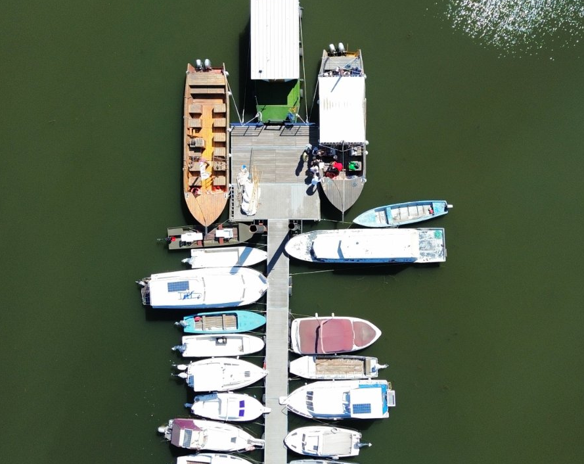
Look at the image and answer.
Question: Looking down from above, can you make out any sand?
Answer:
No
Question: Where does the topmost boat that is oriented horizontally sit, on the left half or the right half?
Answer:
right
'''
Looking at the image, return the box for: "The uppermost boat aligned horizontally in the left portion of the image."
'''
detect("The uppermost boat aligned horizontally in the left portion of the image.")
[160,220,267,249]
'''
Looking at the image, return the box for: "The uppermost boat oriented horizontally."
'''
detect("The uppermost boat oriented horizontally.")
[322,200,454,228]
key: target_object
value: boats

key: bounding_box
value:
[310,45,368,221]
[177,356,269,393]
[183,392,271,425]
[173,310,267,336]
[154,419,265,455]
[178,452,262,464]
[279,378,395,427]
[284,417,371,459]
[160,220,267,249]
[285,228,447,274]
[290,313,383,354]
[183,60,241,235]
[129,268,269,309]
[289,354,390,380]
[322,200,454,228]
[171,334,266,357]
[181,247,268,269]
